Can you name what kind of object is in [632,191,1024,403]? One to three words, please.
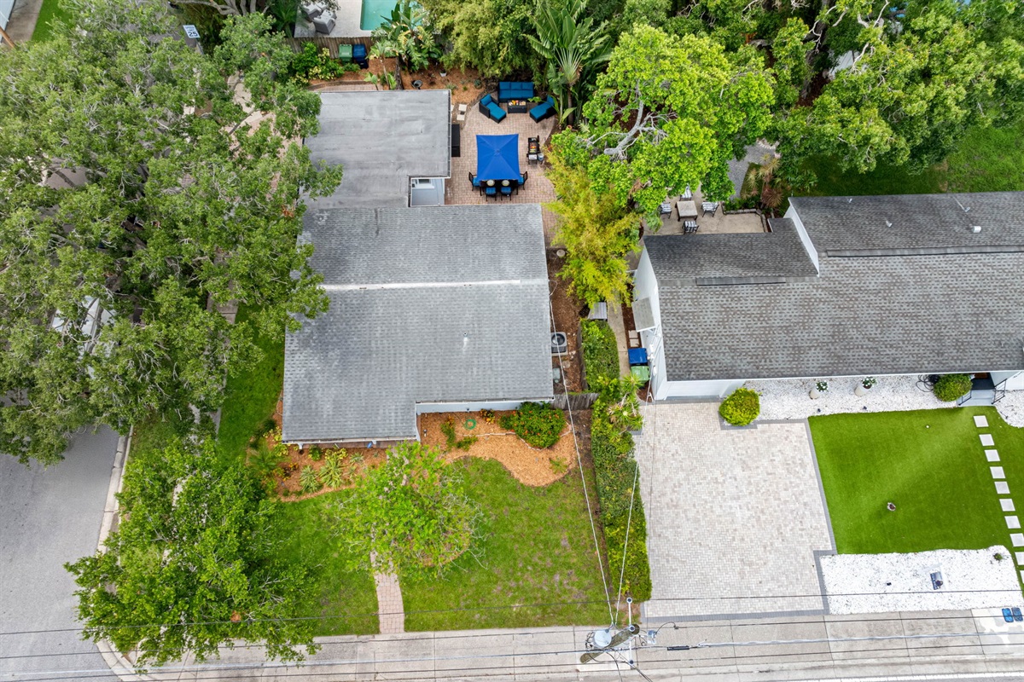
house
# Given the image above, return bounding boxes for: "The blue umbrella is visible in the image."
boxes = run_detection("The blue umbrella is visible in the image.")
[476,134,520,181]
